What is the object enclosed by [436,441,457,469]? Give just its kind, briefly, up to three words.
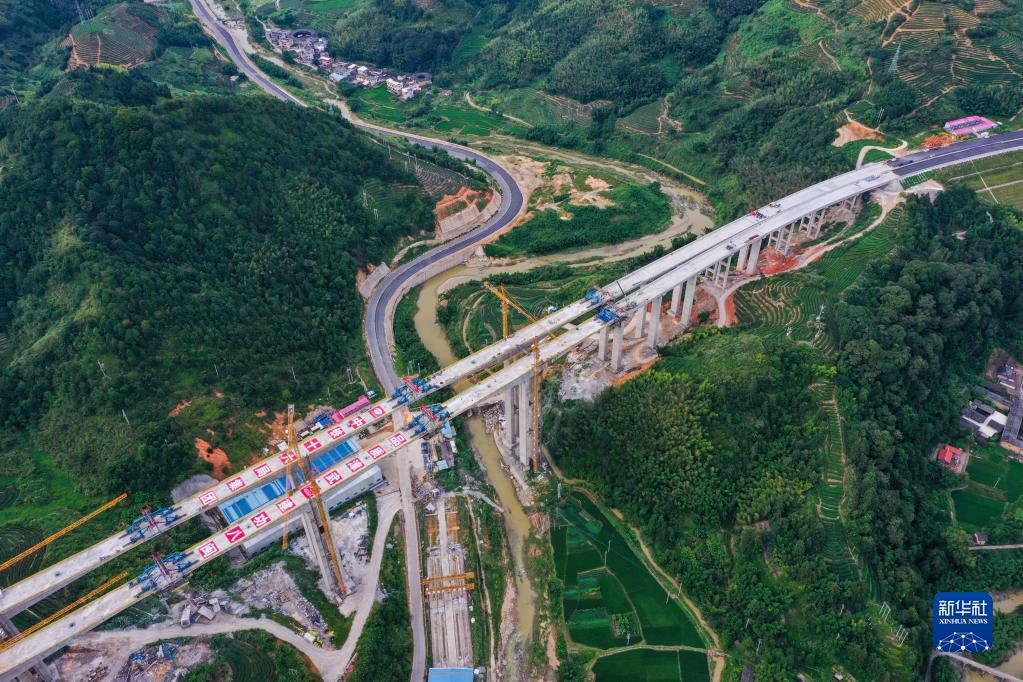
shed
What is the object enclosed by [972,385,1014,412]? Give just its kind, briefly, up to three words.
house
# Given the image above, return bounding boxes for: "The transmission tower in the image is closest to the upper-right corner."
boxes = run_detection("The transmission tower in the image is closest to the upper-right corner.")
[889,39,906,72]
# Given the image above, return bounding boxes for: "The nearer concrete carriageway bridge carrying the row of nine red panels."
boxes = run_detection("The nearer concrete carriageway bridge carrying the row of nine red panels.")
[0,170,911,682]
